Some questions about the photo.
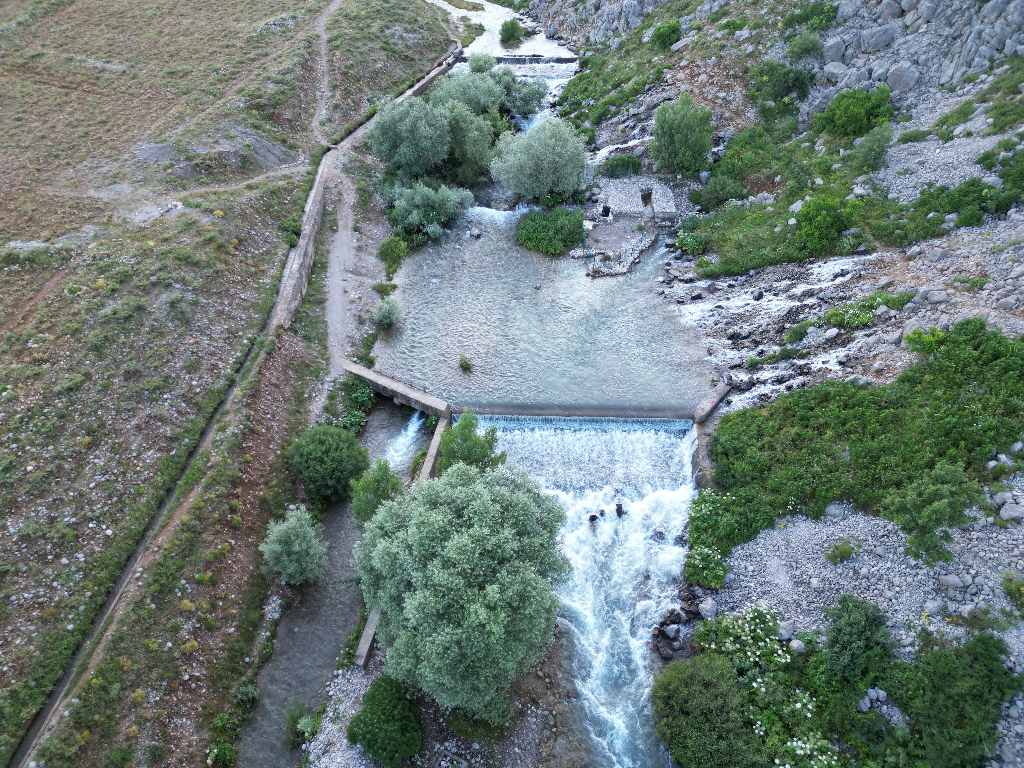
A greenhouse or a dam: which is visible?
dam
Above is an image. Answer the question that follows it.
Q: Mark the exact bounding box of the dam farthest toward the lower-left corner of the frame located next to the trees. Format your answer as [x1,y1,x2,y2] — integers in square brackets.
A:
[341,360,456,432]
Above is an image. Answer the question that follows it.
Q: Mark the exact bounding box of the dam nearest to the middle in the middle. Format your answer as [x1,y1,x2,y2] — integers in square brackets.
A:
[455,412,546,431]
